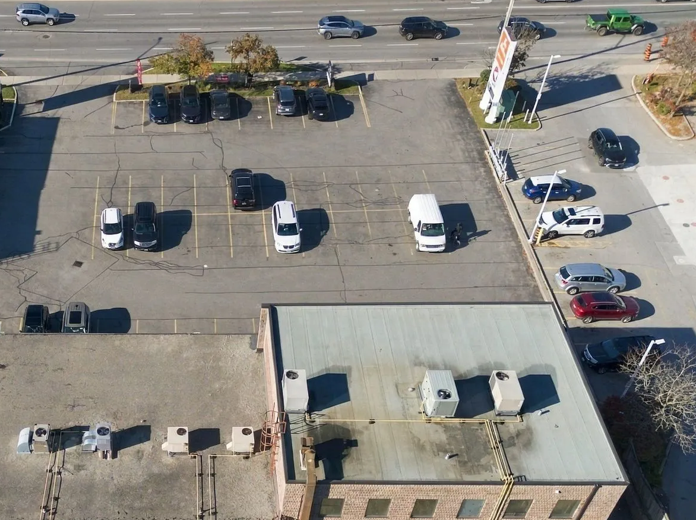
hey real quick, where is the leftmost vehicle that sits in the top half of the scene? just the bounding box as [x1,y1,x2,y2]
[15,2,61,25]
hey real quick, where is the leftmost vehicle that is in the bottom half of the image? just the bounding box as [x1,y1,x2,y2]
[14,303,49,332]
